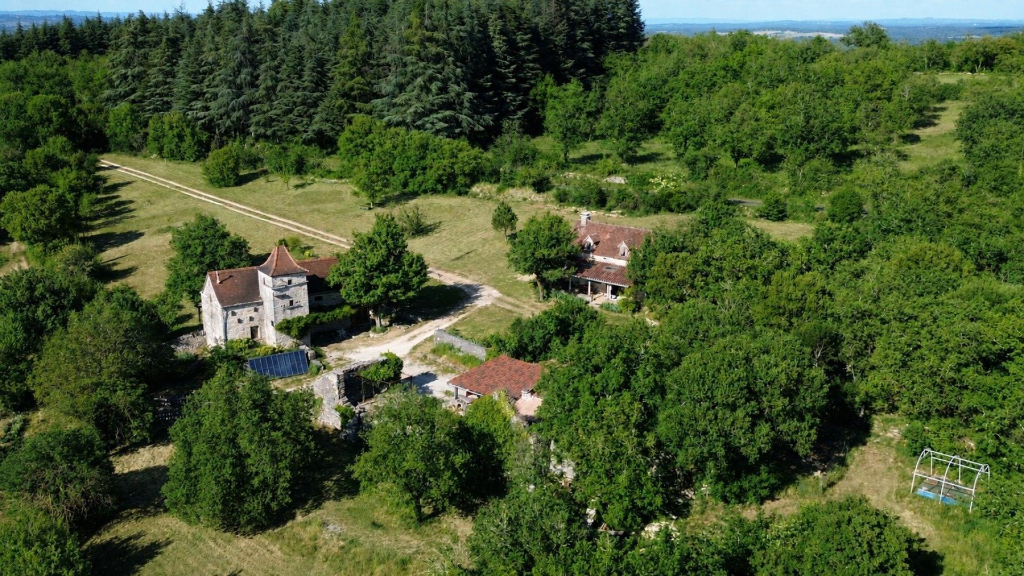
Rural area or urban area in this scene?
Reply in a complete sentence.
It looks rural.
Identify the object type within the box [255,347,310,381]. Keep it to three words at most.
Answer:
solar array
